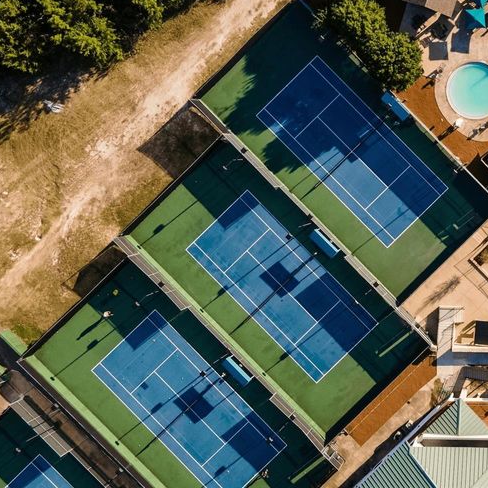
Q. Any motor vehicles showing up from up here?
No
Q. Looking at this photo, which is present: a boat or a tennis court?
tennis court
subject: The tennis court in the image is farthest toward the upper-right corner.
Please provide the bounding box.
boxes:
[202,2,488,303]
